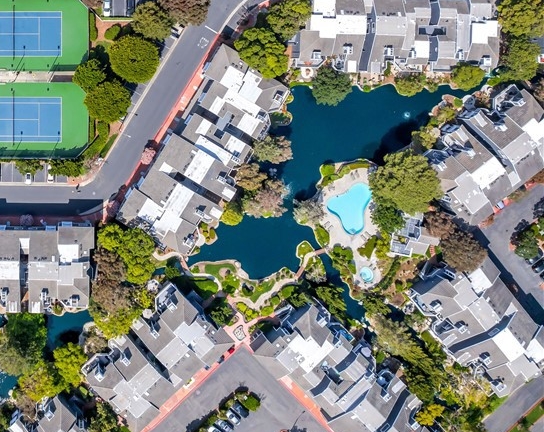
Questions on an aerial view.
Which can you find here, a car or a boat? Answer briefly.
car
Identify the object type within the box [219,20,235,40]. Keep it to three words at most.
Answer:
car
